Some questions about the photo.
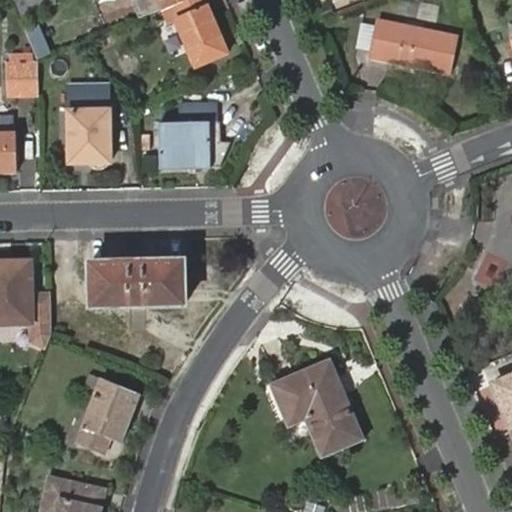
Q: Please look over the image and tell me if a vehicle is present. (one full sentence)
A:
Yes, you can see a vehicle in this photo.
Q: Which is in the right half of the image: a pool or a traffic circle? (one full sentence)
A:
The feature located in the right half of the image is a traffic circle.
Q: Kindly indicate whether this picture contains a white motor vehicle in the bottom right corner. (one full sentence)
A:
No, the scene shows no white motor vehicle in the bottom right corner.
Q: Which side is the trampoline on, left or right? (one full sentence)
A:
The trampoline appears in the left half of the scene.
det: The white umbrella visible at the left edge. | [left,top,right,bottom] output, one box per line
[14,332,28,346]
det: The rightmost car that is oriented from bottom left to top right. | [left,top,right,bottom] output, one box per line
[312,162,335,179]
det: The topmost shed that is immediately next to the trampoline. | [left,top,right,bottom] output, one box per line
[26,25,50,58]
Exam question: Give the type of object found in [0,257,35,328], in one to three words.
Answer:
house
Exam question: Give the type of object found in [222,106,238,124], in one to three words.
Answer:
car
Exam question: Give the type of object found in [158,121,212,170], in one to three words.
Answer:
building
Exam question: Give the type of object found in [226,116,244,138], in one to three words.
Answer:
car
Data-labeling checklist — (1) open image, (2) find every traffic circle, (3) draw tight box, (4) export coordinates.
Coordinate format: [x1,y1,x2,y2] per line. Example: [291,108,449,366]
[272,123,432,293]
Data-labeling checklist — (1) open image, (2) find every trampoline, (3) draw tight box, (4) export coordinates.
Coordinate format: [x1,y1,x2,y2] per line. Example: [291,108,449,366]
[49,57,70,78]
